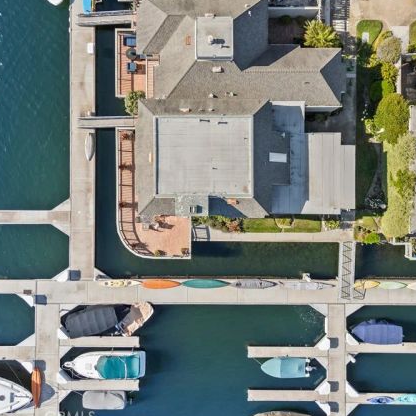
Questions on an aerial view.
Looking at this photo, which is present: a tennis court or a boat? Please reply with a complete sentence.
I can see a boat in this picture.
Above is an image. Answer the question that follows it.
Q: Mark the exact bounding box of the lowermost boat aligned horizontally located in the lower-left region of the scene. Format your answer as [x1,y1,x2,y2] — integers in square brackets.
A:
[72,386,135,410]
